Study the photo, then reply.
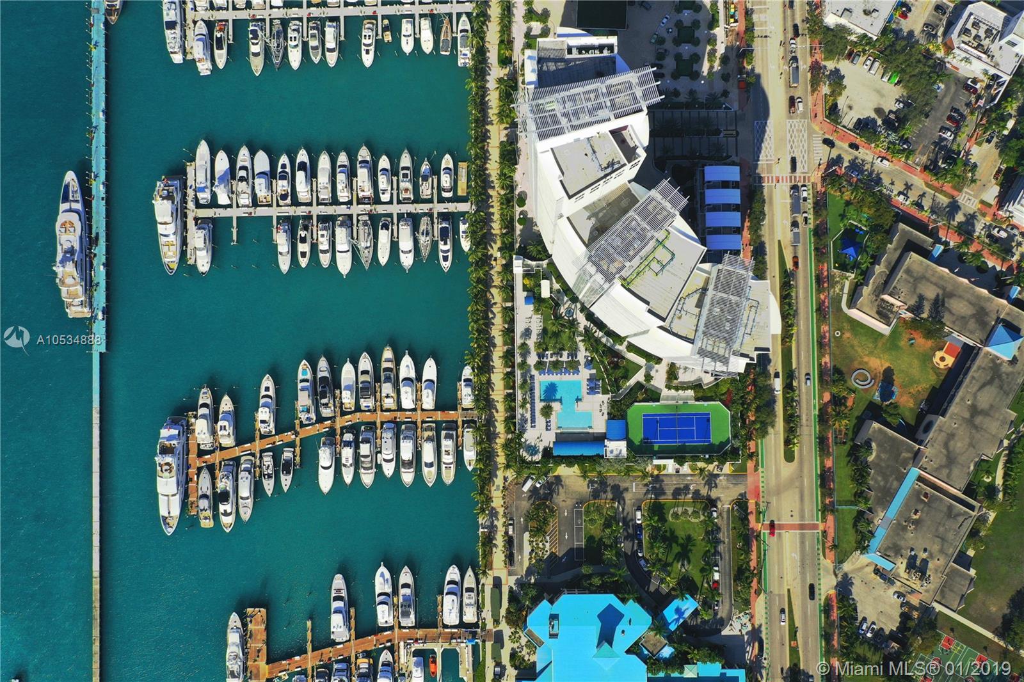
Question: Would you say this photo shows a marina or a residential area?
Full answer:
The area seen from above is a marina.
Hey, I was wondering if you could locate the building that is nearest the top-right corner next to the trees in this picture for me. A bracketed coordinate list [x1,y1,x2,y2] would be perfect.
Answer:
[933,1,1024,111]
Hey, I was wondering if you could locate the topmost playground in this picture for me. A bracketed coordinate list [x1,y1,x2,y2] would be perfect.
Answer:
[832,222,868,273]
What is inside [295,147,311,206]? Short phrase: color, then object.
white boat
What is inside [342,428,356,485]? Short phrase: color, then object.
white boat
